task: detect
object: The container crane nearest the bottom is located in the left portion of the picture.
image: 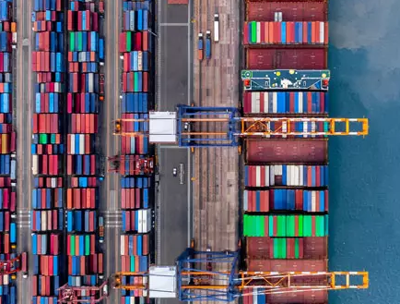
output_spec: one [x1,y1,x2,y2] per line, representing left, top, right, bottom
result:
[62,277,112,302]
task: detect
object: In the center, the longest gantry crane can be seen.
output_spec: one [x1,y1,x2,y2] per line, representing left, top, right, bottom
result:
[115,102,369,151]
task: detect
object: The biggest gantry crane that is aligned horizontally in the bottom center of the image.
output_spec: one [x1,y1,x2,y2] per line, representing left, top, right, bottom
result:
[115,242,369,301]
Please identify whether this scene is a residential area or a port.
port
